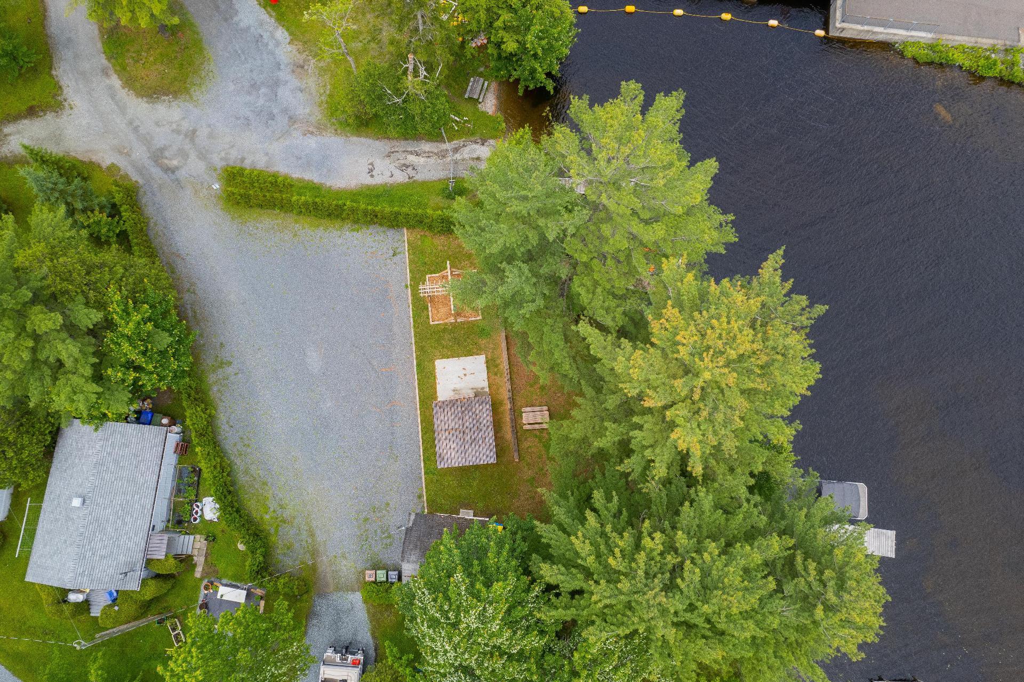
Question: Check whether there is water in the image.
Yes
